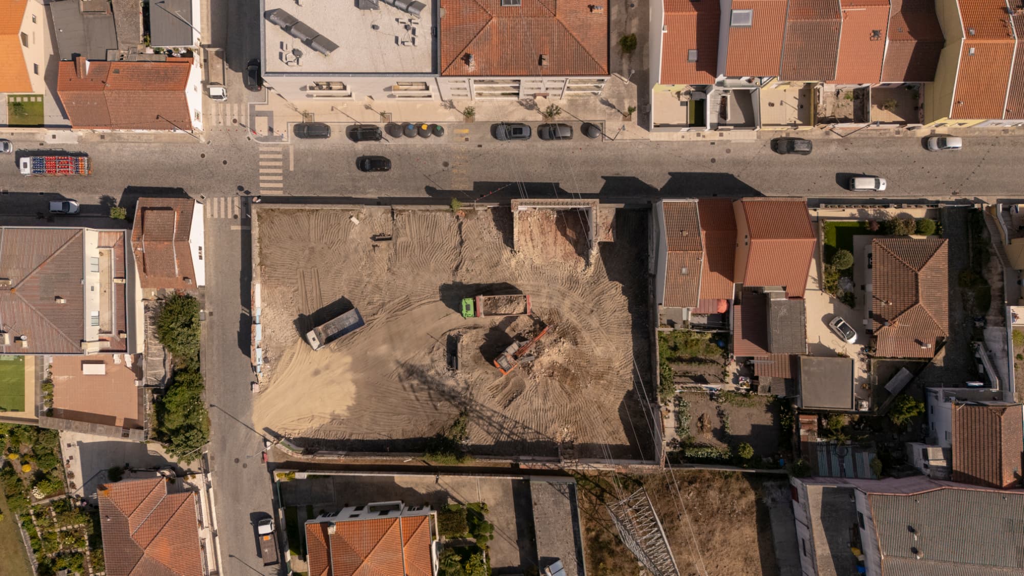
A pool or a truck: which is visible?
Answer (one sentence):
The one in the frame is a truck.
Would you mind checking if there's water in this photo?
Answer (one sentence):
No, the scene doesn't show any water.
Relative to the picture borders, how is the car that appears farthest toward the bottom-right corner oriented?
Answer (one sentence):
The car that appears farthest toward the bottom-right corner runs at an angle in the image.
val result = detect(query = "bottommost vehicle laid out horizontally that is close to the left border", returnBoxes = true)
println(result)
[46,199,82,215]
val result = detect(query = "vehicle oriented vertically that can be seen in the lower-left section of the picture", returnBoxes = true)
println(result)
[254,513,283,568]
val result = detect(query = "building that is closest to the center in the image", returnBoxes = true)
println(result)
[511,198,624,269]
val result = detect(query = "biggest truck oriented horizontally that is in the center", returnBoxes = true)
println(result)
[461,295,536,319]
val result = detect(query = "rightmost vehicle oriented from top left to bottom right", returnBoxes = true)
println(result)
[827,312,859,348]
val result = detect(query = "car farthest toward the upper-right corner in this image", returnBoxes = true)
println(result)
[926,135,964,152]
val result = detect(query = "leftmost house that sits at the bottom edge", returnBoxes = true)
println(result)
[97,469,218,576]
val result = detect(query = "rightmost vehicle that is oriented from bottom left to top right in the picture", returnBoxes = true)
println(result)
[488,312,559,379]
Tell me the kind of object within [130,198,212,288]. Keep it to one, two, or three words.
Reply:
house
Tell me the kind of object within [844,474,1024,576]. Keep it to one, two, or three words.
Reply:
building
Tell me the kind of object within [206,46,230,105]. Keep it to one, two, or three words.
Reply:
truck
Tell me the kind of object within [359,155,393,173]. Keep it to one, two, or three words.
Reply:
car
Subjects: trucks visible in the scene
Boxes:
[302,302,369,354]
[461,295,536,319]
[19,154,98,177]
[206,46,230,105]
[254,513,283,568]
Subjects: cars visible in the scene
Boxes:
[541,124,573,141]
[827,312,859,348]
[496,123,533,141]
[296,123,332,140]
[926,135,964,152]
[773,138,812,155]
[350,125,383,142]
[848,175,884,192]
[0,138,21,155]
[359,155,393,173]
[46,199,82,215]
[245,59,264,95]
